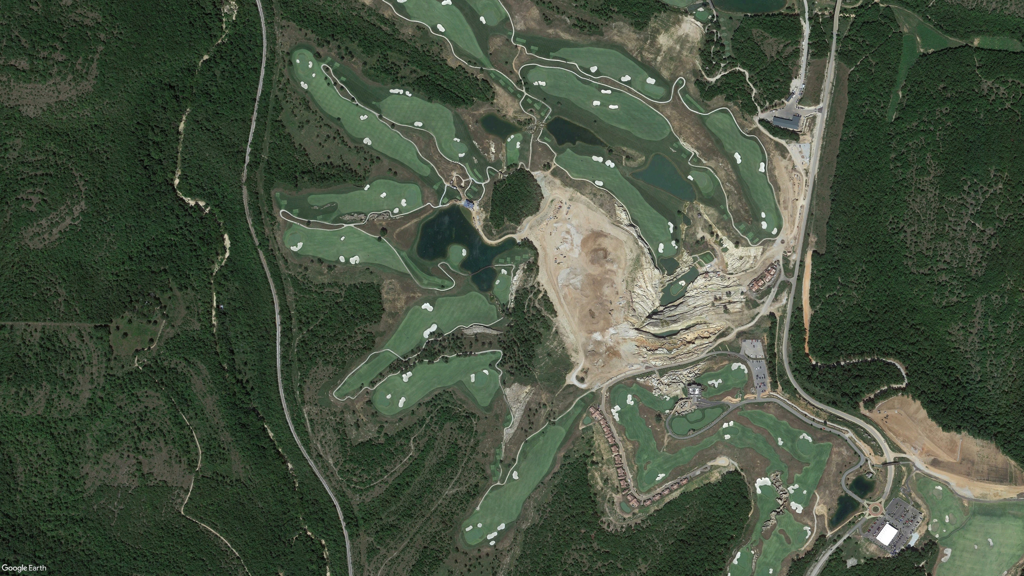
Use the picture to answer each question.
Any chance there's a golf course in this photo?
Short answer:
Yes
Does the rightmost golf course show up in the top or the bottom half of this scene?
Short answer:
bottom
